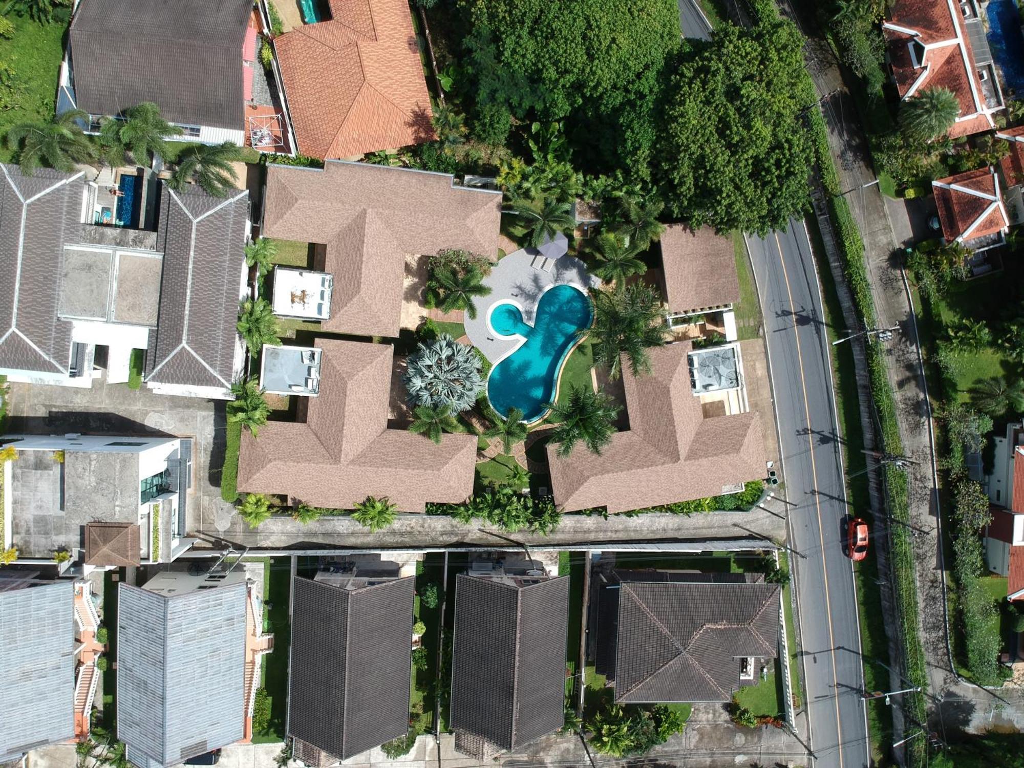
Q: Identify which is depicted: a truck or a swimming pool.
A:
swimming pool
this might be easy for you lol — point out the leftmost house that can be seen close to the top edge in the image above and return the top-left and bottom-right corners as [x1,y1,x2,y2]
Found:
[57,0,256,149]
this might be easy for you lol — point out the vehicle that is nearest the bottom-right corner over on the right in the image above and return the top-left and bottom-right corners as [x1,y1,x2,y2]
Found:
[846,516,873,562]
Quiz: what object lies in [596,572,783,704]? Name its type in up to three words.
house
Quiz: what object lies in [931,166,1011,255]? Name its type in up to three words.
house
